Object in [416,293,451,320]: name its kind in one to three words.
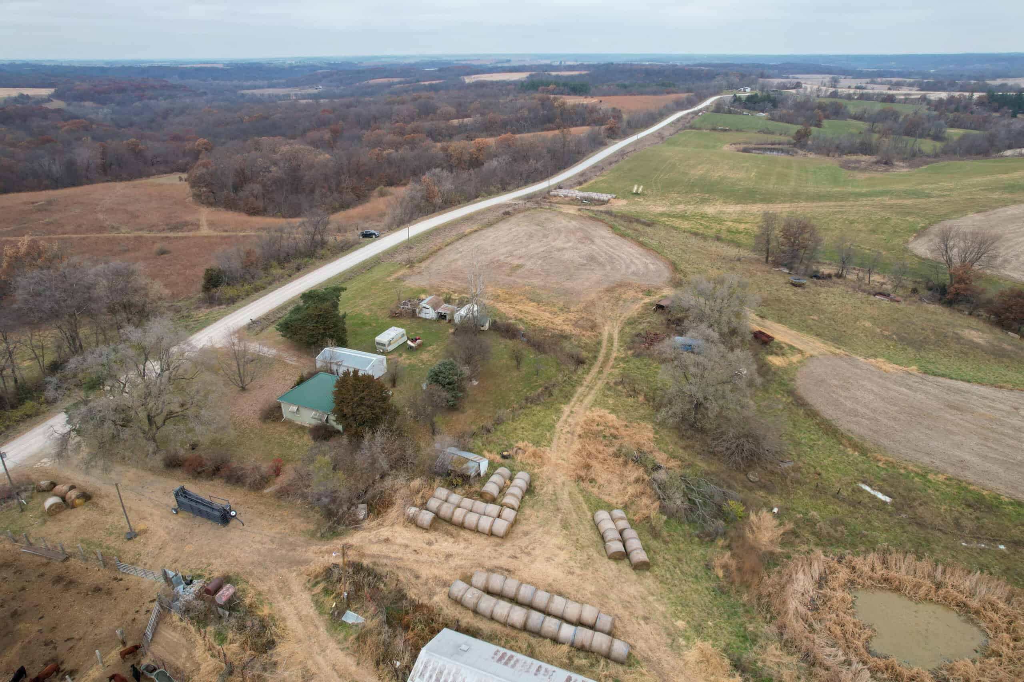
shed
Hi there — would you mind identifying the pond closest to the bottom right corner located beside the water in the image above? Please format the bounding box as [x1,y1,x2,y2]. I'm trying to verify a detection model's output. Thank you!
[856,591,981,671]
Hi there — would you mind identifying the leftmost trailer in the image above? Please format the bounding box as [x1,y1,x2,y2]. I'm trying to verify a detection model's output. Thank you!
[172,491,236,528]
